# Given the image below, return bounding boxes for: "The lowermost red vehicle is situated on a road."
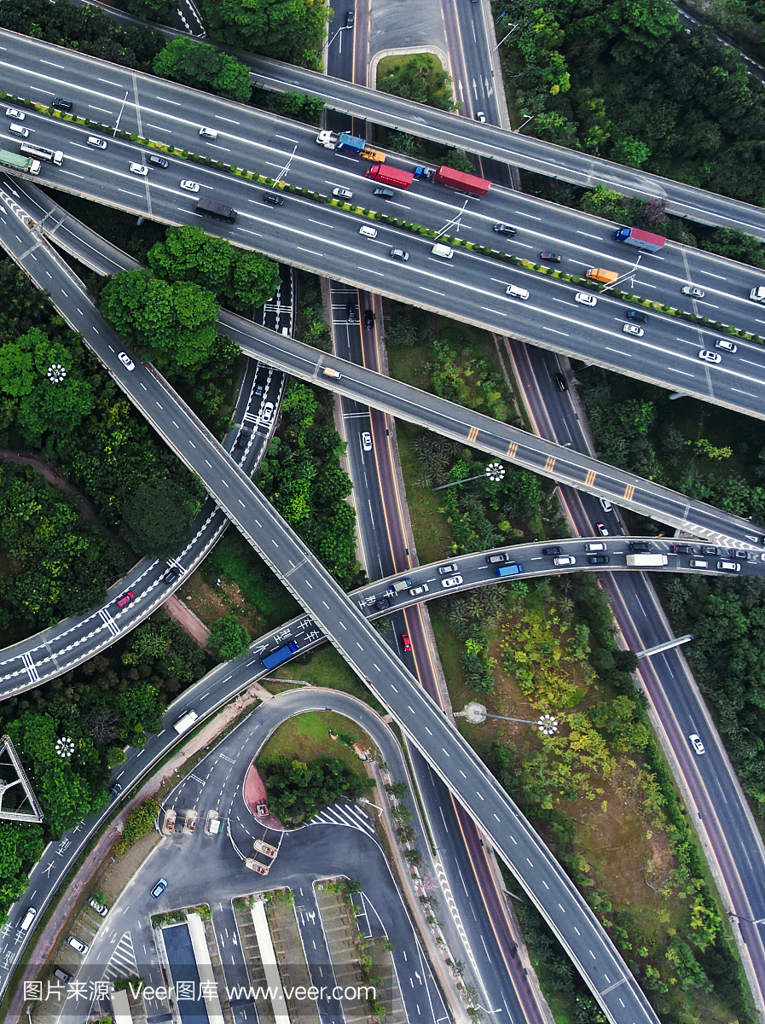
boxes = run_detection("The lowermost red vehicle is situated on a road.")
[400,632,412,651]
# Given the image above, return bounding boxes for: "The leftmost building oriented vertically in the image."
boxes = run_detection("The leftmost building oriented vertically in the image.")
[160,920,209,1024]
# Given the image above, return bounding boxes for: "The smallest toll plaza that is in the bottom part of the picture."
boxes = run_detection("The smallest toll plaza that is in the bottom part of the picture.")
[245,840,277,879]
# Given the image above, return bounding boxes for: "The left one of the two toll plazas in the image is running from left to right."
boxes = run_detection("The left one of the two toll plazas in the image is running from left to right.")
[156,809,225,837]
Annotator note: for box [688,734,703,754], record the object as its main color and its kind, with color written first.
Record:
white car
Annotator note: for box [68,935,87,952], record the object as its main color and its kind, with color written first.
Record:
white car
